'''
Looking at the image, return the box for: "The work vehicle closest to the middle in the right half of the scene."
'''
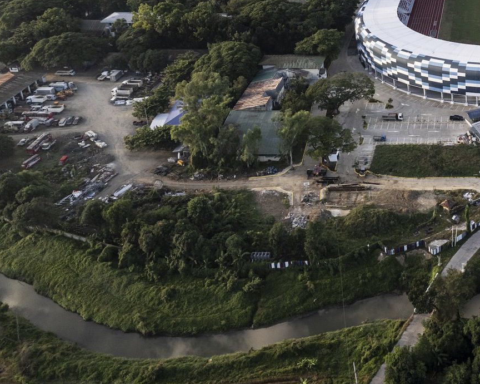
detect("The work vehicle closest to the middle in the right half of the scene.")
[310,160,333,175]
